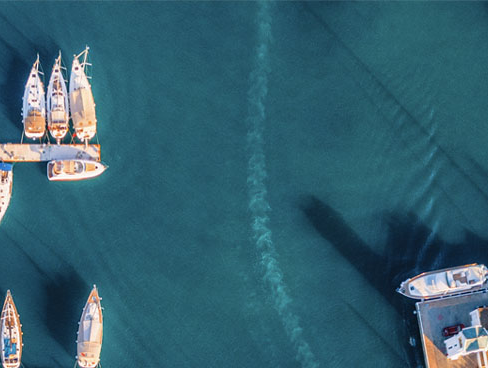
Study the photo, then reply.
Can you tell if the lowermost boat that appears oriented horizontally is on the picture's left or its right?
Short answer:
right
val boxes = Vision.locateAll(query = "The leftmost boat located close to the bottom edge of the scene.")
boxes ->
[0,282,23,368]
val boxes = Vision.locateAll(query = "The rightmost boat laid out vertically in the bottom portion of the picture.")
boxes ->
[77,278,106,368]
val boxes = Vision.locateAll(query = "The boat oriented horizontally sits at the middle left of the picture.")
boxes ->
[48,159,109,181]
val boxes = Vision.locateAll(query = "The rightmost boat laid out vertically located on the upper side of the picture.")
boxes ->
[66,47,97,147]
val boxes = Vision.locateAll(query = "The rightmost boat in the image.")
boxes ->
[397,266,488,298]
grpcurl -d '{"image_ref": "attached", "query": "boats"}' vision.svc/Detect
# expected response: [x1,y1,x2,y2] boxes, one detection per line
[77,278,106,368]
[397,266,488,298]
[0,161,17,237]
[48,159,109,181]
[43,51,68,148]
[0,282,23,368]
[66,47,97,147]
[19,54,48,145]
